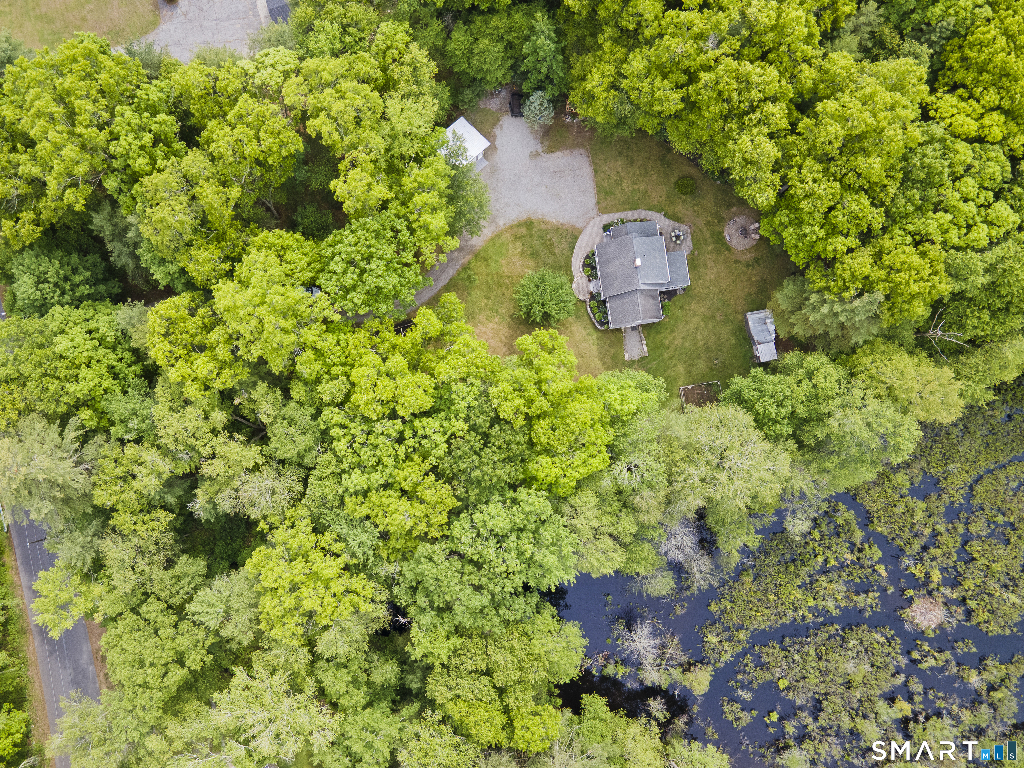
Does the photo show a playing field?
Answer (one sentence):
No, there isn't any playing field down there.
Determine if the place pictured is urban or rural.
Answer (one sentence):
The land in this view is best described as rural.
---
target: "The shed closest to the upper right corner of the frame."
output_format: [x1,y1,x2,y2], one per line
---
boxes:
[744,309,781,362]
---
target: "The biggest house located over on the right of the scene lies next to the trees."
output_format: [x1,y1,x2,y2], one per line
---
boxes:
[594,221,690,329]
